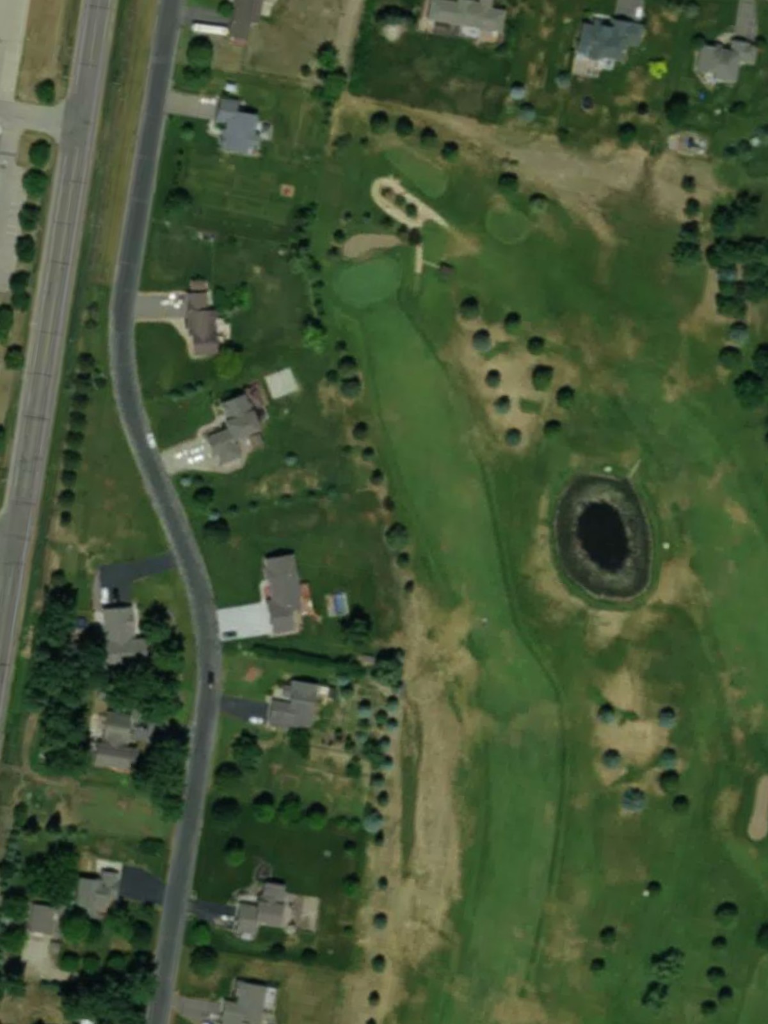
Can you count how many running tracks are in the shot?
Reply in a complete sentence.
The photo contains no running tracks.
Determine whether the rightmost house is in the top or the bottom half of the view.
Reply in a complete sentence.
The rightmost house is in the top half of the image.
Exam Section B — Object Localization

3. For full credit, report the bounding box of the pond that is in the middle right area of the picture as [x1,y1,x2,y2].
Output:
[555,473,650,600]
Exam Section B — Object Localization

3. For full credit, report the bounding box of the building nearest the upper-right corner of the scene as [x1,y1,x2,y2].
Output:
[696,37,757,85]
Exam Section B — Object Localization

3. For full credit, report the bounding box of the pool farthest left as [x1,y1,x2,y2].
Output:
[326,593,348,615]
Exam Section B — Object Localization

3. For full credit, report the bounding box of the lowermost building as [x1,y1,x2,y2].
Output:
[220,981,277,1024]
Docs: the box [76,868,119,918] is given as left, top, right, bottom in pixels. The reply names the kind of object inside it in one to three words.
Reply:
house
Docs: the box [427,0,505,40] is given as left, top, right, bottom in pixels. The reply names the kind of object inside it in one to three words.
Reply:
house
